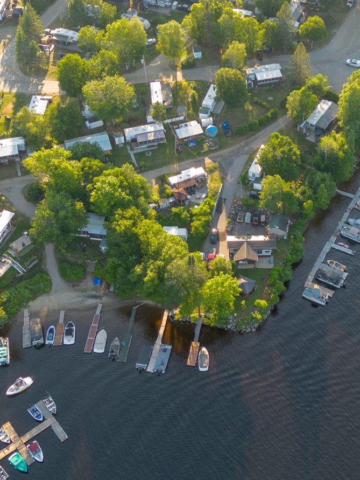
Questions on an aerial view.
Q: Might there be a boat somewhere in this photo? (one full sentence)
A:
Yes, there's a boat down there.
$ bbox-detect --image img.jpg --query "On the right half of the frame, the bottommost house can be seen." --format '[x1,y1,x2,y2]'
[228,235,276,271]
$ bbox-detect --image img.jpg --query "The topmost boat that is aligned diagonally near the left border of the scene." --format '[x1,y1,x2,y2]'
[7,374,37,395]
